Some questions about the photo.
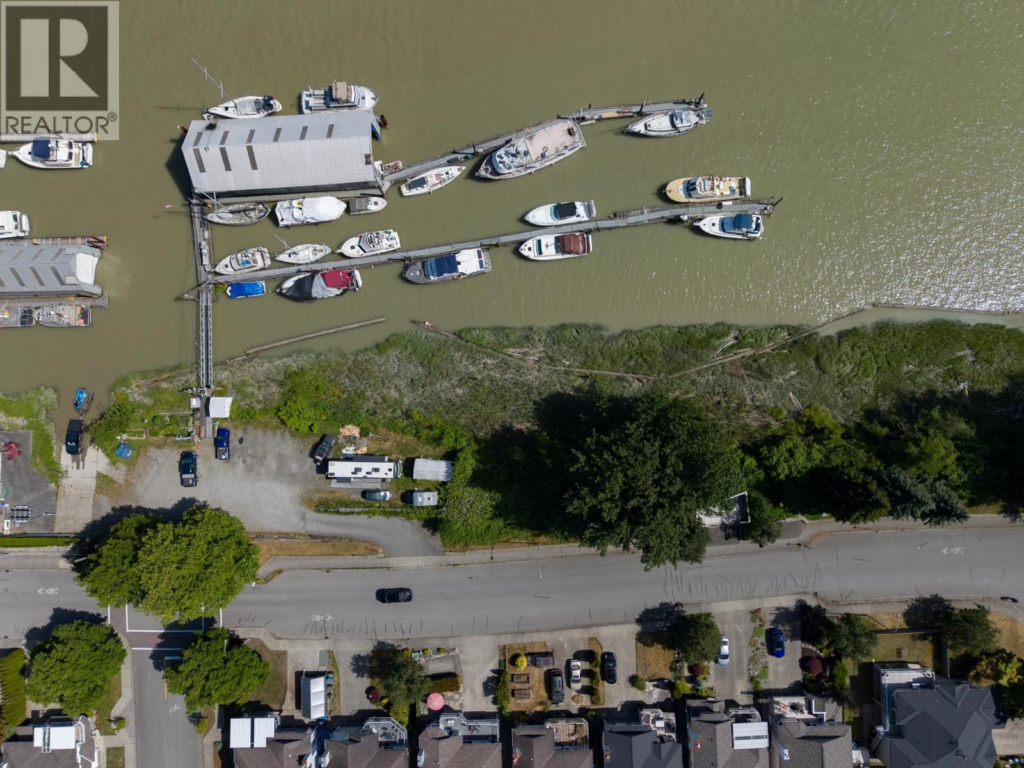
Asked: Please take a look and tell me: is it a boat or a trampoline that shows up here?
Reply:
boat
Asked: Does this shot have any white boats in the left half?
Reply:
Yes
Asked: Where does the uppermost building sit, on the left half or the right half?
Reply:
left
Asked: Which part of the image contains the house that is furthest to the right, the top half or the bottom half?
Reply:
bottom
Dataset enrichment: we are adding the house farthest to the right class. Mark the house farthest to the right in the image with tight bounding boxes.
[864,660,1001,768]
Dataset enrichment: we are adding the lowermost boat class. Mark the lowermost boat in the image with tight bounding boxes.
[74,388,86,410]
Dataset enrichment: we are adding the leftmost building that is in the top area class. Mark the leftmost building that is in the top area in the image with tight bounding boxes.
[0,245,111,298]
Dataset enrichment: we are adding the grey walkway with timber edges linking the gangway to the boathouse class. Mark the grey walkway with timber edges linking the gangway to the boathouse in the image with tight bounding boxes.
[192,200,215,286]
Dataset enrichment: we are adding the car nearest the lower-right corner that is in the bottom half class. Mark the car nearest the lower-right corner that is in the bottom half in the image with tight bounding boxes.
[769,629,786,657]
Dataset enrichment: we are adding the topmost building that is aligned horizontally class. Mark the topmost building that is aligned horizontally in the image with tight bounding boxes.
[181,111,384,199]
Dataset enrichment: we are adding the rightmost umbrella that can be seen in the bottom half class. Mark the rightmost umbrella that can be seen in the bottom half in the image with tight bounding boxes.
[428,694,445,711]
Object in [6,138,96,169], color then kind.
white boat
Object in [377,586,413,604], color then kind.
black car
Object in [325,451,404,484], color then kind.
white camper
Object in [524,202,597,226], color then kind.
white boat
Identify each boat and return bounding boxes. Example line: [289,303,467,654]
[477,116,586,177]
[301,81,380,114]
[227,281,267,300]
[337,228,403,257]
[210,247,275,273]
[6,138,96,169]
[31,304,97,327]
[625,105,715,137]
[274,263,365,299]
[0,303,40,327]
[696,212,762,240]
[0,212,33,239]
[402,248,494,285]
[194,196,273,224]
[187,63,285,119]
[271,241,333,266]
[524,202,597,226]
[661,172,750,202]
[401,166,466,198]
[349,198,387,214]
[519,234,593,262]
[74,388,86,410]
[276,200,347,229]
